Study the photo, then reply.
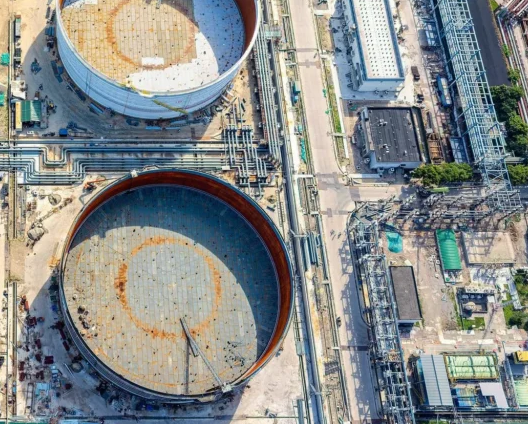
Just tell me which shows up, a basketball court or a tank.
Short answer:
tank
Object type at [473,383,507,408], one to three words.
shed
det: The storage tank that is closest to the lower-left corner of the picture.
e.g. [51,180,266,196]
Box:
[59,167,298,407]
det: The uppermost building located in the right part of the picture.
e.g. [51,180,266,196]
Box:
[344,0,406,90]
